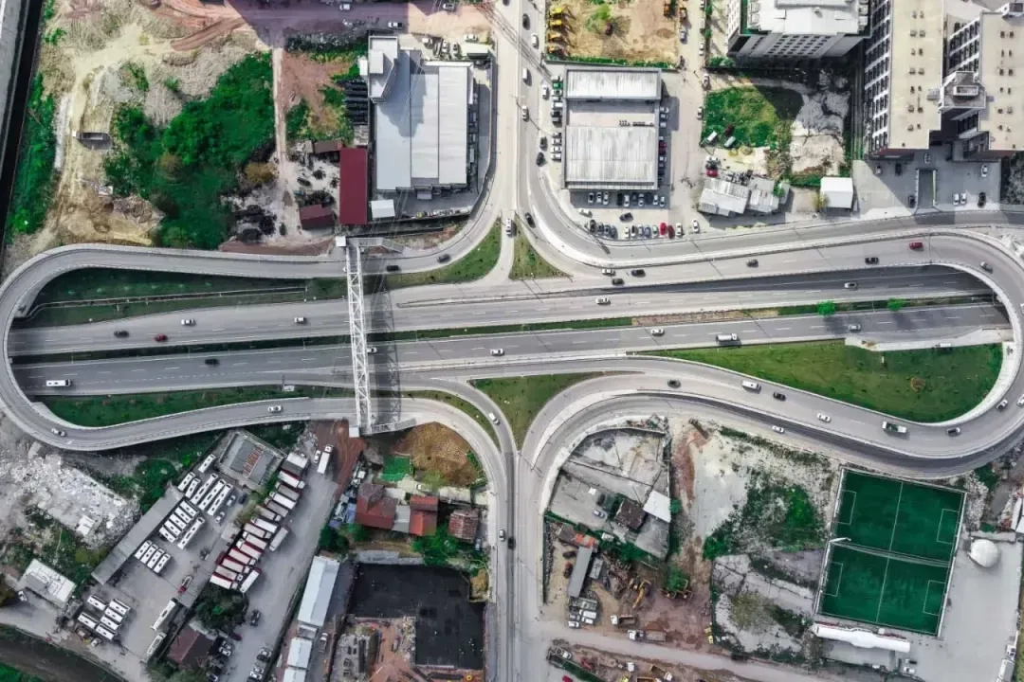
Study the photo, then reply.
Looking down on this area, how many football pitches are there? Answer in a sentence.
I count 2 football pitches.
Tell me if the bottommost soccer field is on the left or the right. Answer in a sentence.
You can find the bottommost soccer field on the right side of the picture.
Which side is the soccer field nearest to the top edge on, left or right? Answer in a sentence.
The soccer field nearest to the top edge appears in the right half of the scene.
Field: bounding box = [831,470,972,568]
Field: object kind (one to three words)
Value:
soccer field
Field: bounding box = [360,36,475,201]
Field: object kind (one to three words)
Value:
building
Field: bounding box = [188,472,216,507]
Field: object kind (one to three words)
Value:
bus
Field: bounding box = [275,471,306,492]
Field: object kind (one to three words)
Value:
truck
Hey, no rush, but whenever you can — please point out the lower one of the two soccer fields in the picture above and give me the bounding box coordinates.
[817,542,957,640]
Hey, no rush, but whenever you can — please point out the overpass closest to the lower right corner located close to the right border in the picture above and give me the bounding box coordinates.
[621,227,1024,459]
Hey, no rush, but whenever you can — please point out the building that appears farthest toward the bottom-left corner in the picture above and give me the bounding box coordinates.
[21,555,86,603]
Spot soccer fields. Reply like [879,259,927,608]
[817,542,957,640]
[831,470,972,568]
